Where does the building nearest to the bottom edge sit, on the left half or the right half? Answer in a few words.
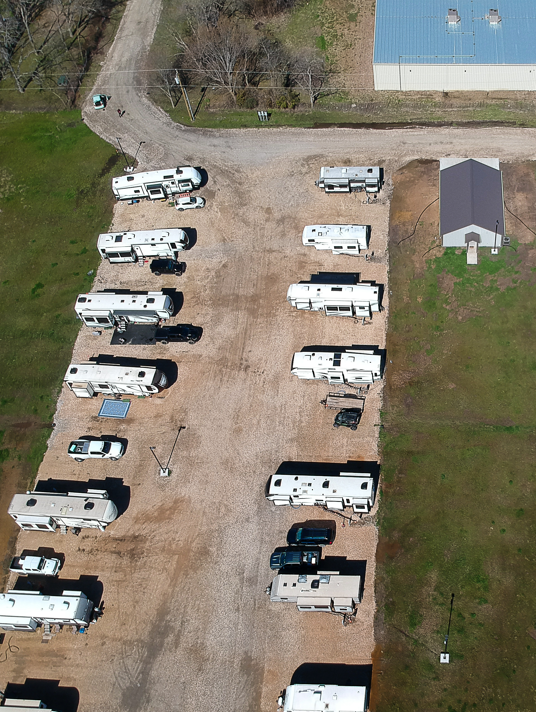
right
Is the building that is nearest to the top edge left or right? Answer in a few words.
right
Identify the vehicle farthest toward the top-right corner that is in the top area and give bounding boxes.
[312,167,383,195]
